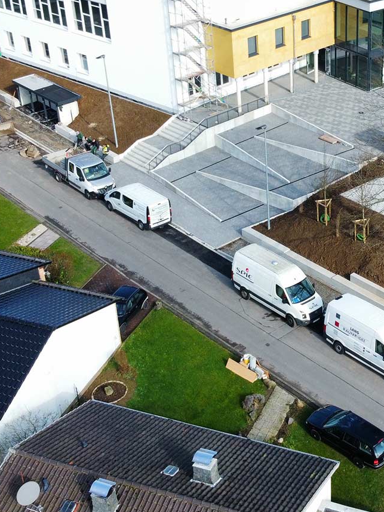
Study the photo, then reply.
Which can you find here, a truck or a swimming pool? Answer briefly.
truck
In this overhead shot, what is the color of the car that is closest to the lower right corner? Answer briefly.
black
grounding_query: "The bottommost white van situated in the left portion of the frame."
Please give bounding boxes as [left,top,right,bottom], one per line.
[104,183,171,230]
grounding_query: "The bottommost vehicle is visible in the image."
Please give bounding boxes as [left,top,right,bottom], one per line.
[305,402,384,476]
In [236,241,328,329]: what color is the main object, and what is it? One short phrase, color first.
white van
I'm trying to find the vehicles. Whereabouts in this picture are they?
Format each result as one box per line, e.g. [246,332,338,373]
[305,402,384,476]
[43,147,119,197]
[322,289,384,375]
[104,183,171,230]
[236,241,328,329]
[112,287,158,337]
